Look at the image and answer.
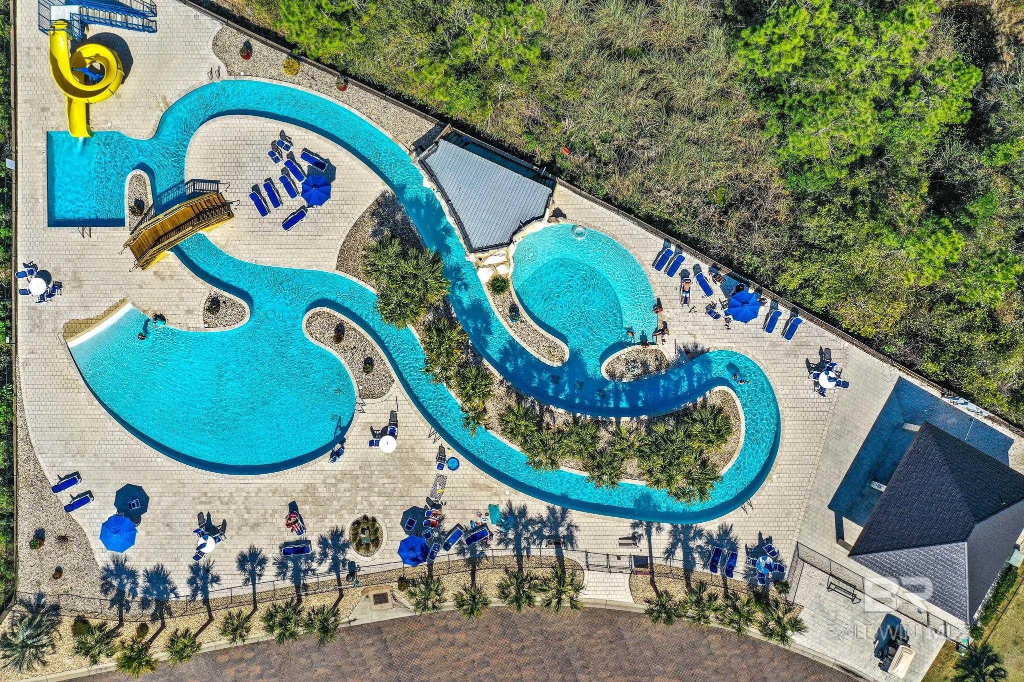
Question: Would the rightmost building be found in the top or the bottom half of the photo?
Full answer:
Seen from above, the rightmost building lies in the bottom half of the view.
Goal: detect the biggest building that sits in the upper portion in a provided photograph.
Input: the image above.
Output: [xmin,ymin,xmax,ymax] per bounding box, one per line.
[419,139,557,254]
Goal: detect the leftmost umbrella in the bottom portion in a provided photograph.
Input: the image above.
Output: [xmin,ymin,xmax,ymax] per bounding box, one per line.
[103,513,142,551]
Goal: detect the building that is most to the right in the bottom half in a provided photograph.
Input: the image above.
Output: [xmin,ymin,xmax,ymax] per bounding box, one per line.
[842,421,1024,627]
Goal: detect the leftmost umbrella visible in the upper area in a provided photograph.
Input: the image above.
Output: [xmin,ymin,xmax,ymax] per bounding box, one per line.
[302,176,333,207]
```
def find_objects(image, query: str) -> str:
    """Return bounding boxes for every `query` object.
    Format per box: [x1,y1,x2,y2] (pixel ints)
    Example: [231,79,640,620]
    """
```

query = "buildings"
[419,139,557,254]
[842,421,1024,627]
